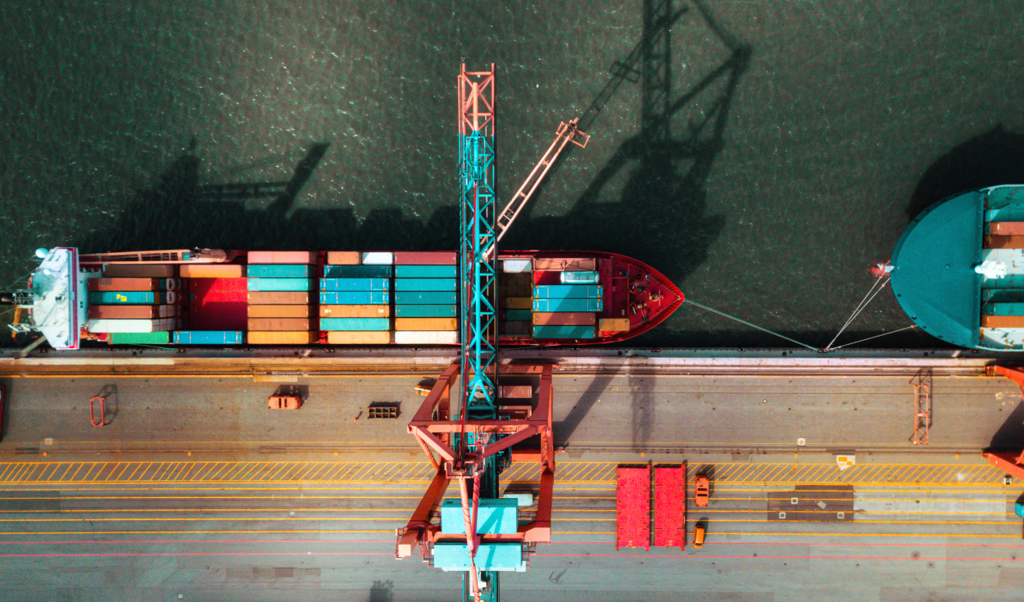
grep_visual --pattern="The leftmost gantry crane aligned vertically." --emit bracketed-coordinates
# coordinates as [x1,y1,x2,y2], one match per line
[391,57,563,602]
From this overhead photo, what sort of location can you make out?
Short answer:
port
